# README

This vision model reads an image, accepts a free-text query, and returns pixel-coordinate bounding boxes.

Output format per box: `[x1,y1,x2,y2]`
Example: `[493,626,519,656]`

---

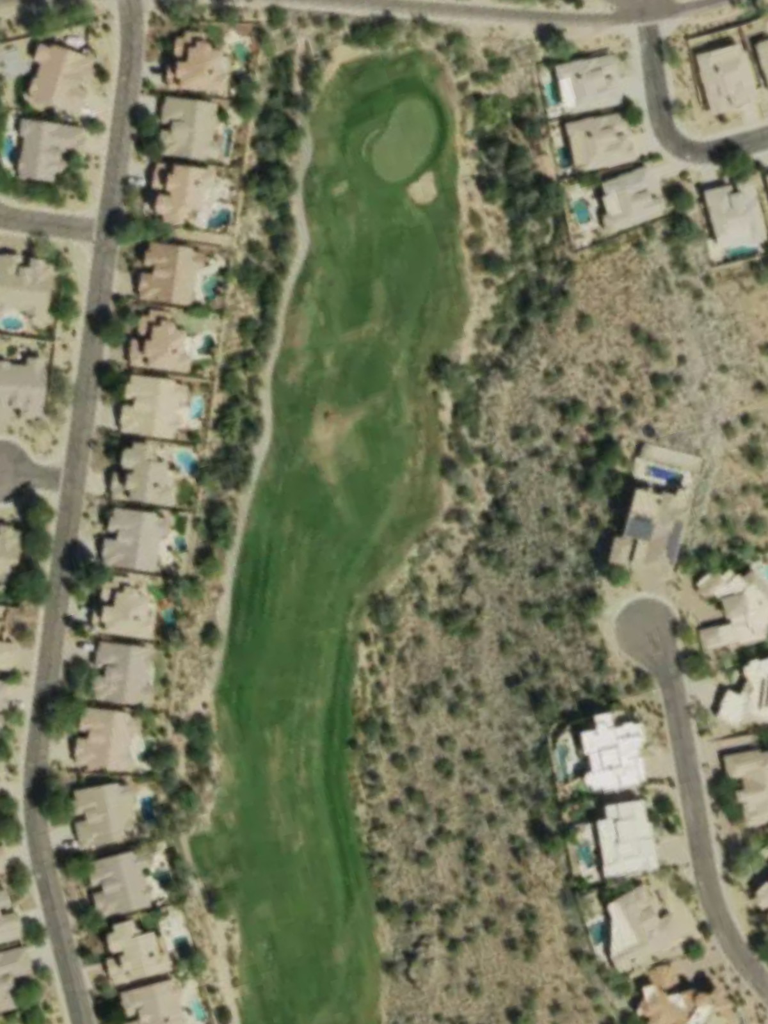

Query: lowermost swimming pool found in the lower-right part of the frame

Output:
[589,919,608,946]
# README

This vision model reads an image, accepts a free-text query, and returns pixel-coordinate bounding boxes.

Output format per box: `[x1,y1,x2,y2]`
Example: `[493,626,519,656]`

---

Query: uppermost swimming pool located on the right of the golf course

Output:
[544,72,560,105]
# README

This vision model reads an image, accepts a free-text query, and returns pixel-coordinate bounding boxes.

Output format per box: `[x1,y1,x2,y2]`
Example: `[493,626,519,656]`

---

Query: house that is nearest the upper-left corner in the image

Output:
[23,39,95,110]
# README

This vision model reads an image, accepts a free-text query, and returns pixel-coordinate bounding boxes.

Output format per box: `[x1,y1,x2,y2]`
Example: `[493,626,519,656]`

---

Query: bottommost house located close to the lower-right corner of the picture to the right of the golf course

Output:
[639,989,724,1024]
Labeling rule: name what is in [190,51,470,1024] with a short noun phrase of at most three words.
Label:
golf course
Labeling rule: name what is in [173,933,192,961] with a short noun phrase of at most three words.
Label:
swimming pool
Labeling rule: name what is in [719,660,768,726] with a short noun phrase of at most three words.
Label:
house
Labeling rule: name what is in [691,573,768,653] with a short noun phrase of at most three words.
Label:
house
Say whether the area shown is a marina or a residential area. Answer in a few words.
residential area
